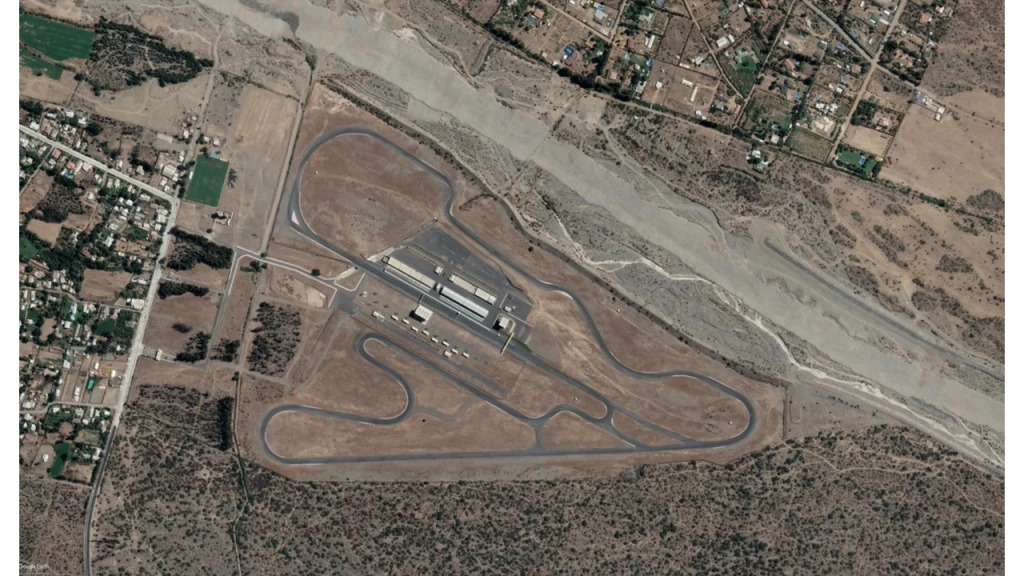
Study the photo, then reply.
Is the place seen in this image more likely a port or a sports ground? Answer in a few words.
sports ground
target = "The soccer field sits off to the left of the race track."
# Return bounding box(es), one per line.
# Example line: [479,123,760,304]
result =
[185,154,229,206]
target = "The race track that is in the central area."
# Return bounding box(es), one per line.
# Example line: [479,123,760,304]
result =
[240,84,785,481]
